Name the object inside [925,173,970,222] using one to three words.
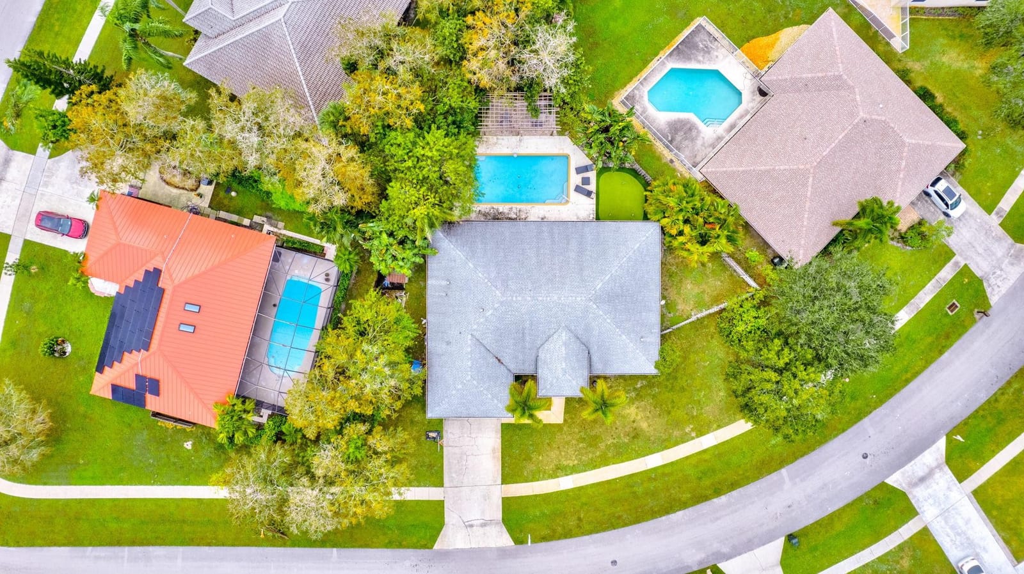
car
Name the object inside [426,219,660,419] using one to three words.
house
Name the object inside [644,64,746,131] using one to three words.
swimming pool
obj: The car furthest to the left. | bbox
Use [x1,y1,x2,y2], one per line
[28,208,85,240]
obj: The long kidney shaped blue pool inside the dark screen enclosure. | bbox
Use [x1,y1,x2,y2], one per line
[267,278,322,377]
